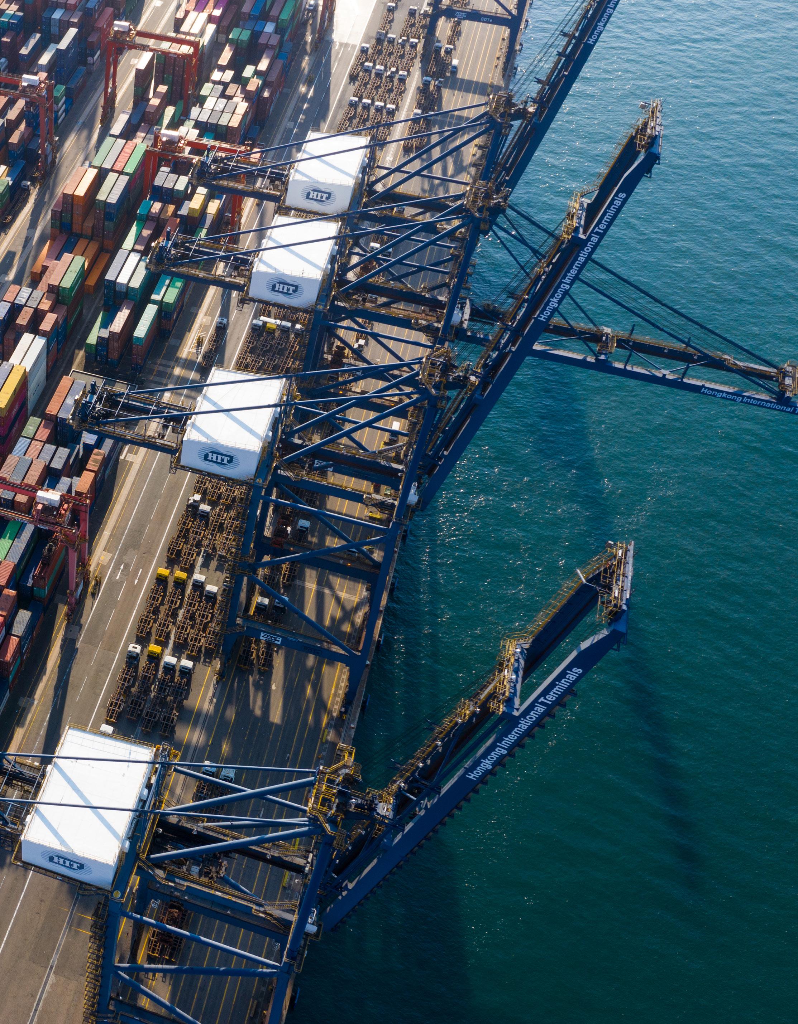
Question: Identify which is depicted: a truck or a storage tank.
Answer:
truck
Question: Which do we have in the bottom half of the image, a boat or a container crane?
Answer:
container crane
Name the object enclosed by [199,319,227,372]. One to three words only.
truck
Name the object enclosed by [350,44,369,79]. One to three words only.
vehicle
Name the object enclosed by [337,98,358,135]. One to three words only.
truck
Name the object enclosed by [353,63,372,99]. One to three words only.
vehicle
